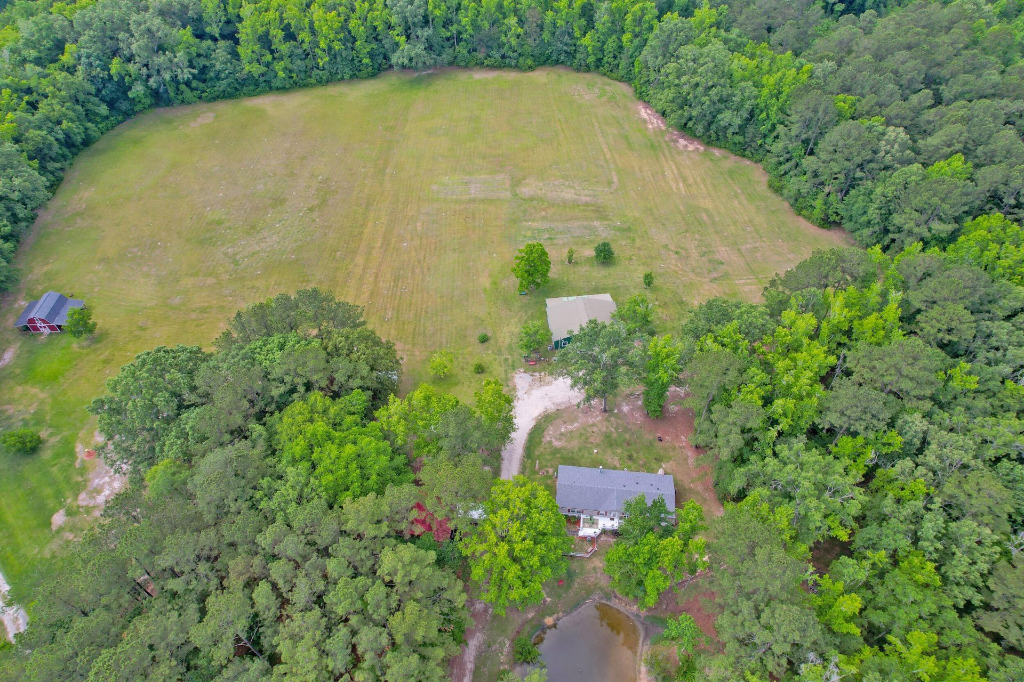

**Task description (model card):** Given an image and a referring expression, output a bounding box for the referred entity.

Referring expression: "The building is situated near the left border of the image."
[15,292,89,332]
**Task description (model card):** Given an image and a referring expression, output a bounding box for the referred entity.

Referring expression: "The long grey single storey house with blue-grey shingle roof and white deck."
[556,465,676,519]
